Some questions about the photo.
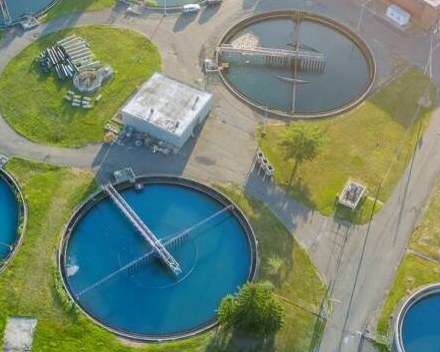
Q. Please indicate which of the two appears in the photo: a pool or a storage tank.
storage tank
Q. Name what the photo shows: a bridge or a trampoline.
bridge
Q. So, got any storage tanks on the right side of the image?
Yes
